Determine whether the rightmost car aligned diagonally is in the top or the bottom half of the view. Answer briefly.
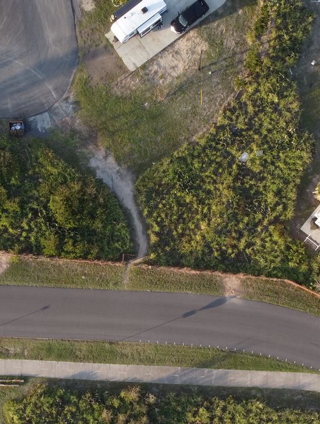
top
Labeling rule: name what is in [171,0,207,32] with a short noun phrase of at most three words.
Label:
car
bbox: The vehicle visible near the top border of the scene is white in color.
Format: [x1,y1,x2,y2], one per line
[110,0,167,50]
